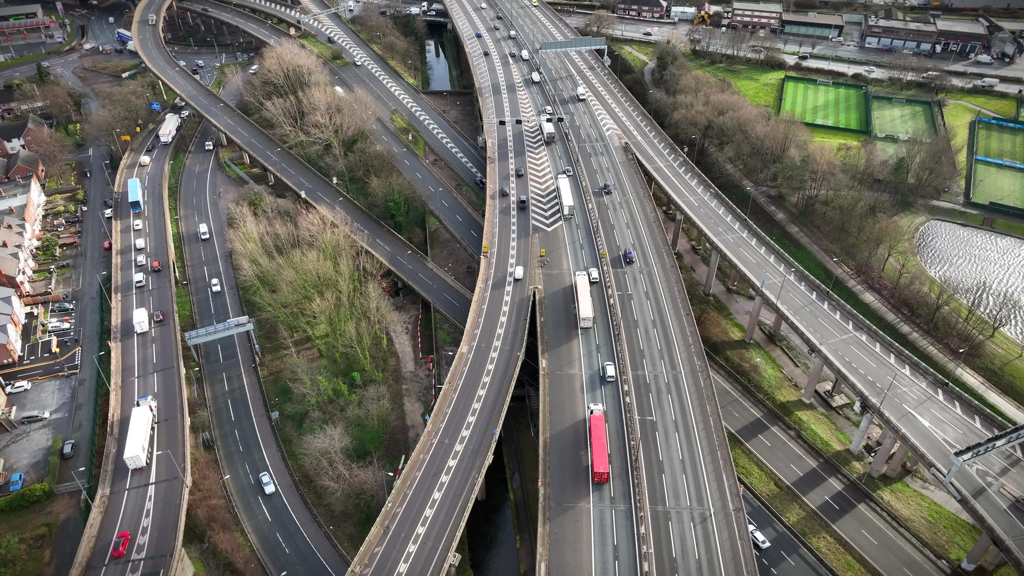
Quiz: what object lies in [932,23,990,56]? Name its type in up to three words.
building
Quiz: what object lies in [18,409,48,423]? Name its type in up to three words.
car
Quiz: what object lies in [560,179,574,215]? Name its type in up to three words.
vehicle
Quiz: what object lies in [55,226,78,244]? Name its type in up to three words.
building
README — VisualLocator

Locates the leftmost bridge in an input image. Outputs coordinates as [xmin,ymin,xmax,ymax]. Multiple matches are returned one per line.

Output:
[81,102,189,576]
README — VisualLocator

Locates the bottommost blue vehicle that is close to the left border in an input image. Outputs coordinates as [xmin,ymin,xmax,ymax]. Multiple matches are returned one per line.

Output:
[6,471,23,489]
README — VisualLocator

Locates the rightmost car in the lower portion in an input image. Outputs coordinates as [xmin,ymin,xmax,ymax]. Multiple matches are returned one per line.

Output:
[752,524,770,551]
